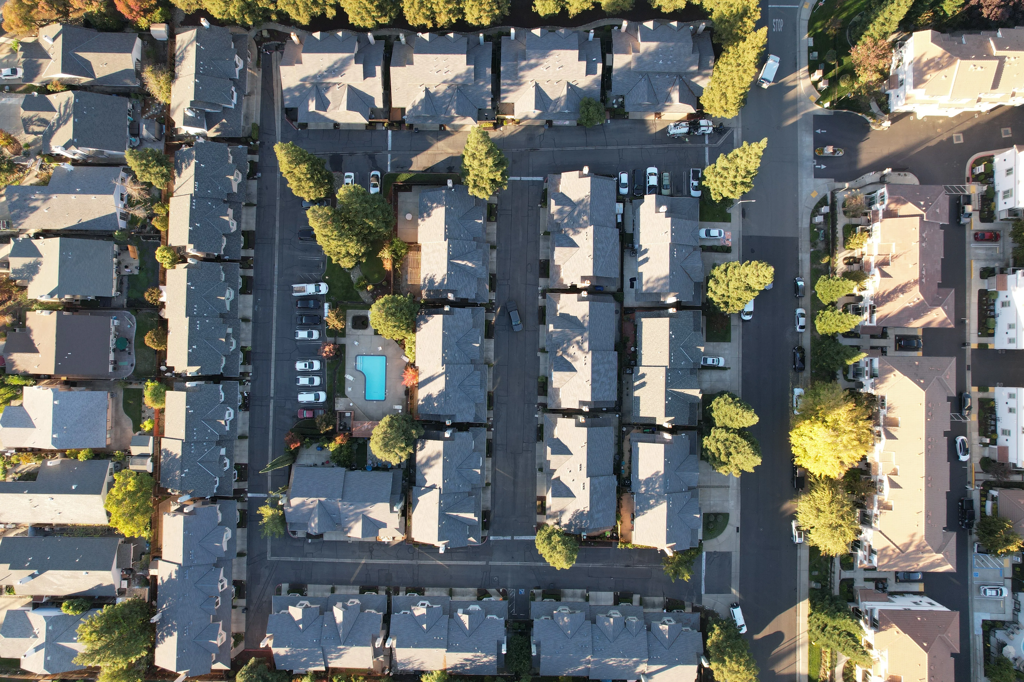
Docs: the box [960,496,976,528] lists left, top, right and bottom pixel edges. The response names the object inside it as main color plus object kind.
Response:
black vehicle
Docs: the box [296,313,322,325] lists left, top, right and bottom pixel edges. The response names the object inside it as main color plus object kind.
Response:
black vehicle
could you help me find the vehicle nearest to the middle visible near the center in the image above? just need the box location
[506,300,522,332]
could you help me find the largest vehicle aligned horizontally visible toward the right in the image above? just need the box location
[663,118,720,137]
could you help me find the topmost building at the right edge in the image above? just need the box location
[885,30,1024,113]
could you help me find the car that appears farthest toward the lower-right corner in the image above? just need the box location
[980,585,1007,599]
